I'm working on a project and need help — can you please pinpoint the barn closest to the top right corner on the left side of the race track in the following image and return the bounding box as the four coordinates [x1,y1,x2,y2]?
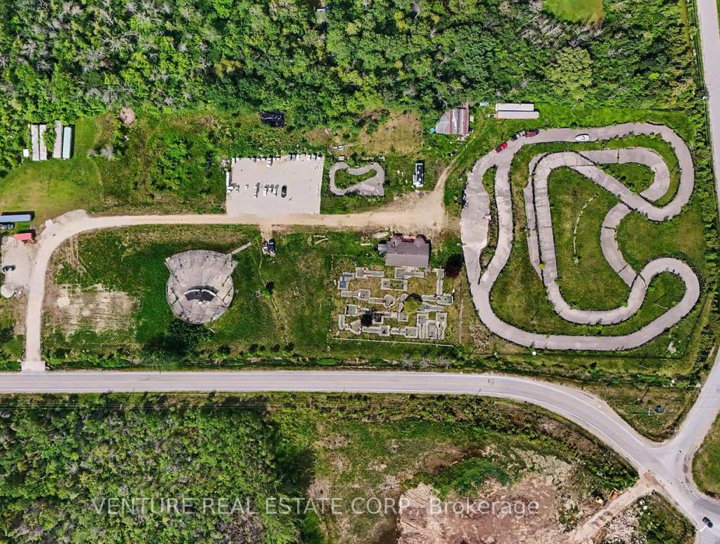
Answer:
[436,108,468,135]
